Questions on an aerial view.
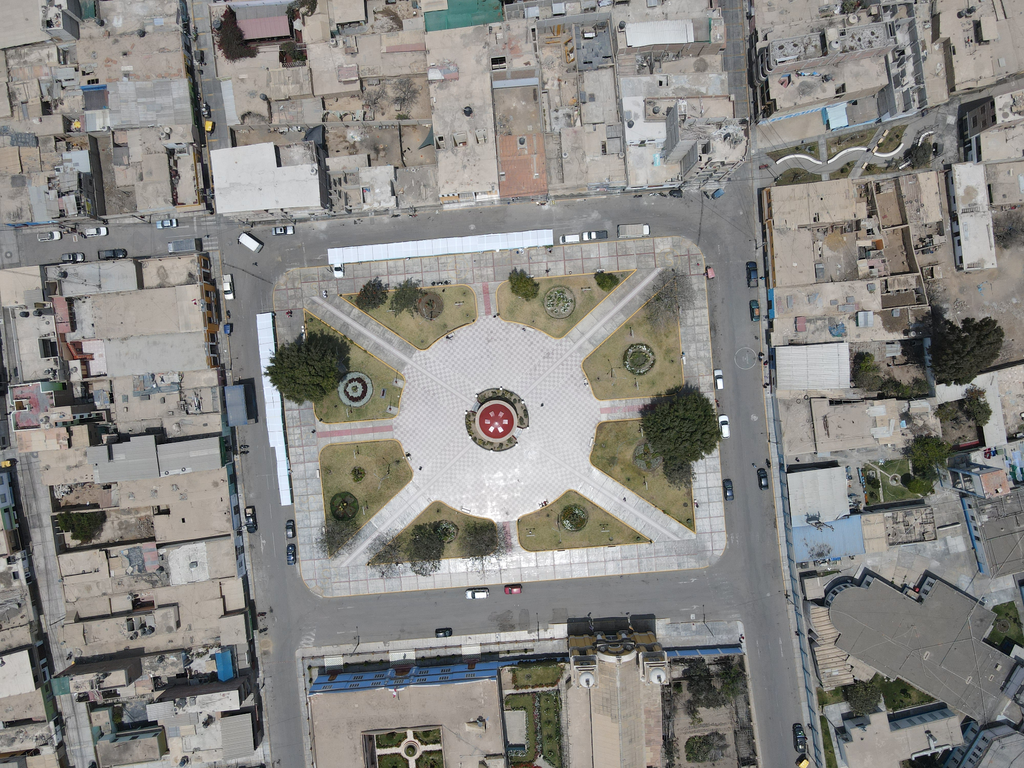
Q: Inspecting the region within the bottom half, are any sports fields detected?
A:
No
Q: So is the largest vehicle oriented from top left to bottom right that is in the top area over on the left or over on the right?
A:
left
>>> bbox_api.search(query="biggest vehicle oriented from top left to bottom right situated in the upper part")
[236,230,265,253]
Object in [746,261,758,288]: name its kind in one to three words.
vehicle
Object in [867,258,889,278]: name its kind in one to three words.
shed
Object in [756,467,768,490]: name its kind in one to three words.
vehicle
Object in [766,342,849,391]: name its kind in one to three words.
building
